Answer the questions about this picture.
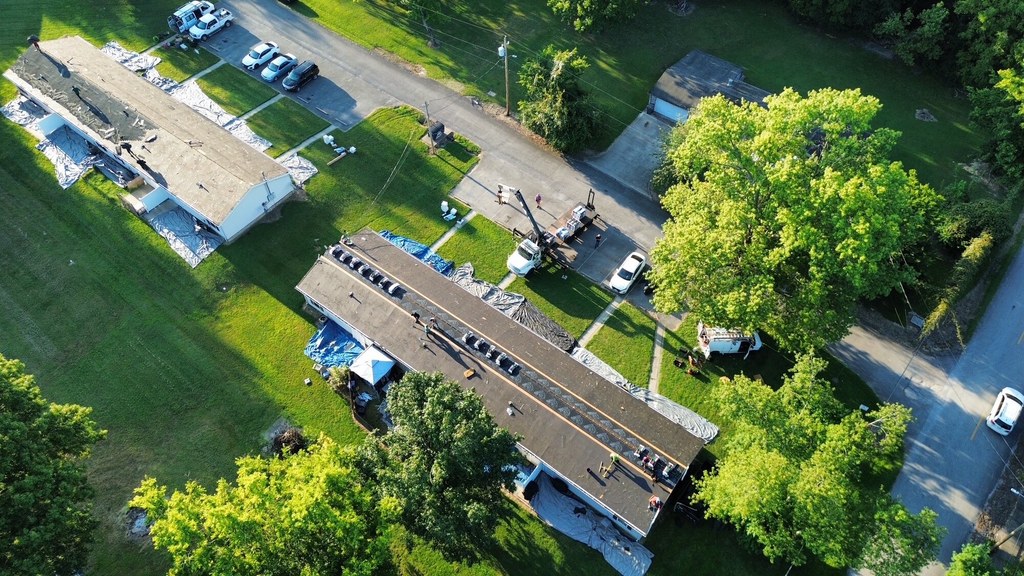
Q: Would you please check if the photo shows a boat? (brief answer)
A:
No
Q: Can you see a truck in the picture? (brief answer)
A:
Yes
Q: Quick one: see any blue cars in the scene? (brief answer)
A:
Yes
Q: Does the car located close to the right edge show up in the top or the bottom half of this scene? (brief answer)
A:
bottom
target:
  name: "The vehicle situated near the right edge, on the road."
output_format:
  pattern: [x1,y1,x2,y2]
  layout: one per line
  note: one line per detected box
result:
[980,386,1024,441]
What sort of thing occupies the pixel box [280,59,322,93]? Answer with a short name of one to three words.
car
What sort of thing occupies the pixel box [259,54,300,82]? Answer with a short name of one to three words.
car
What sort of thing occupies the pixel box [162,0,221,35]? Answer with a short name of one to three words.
van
